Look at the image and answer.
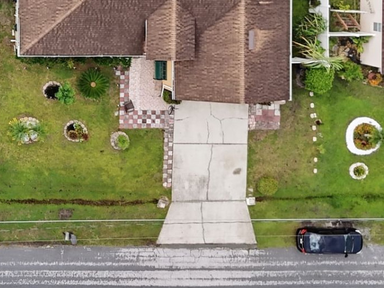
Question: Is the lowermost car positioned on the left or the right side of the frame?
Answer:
right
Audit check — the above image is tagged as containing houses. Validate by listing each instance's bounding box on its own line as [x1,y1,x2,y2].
[362,0,384,75]
[14,0,294,103]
